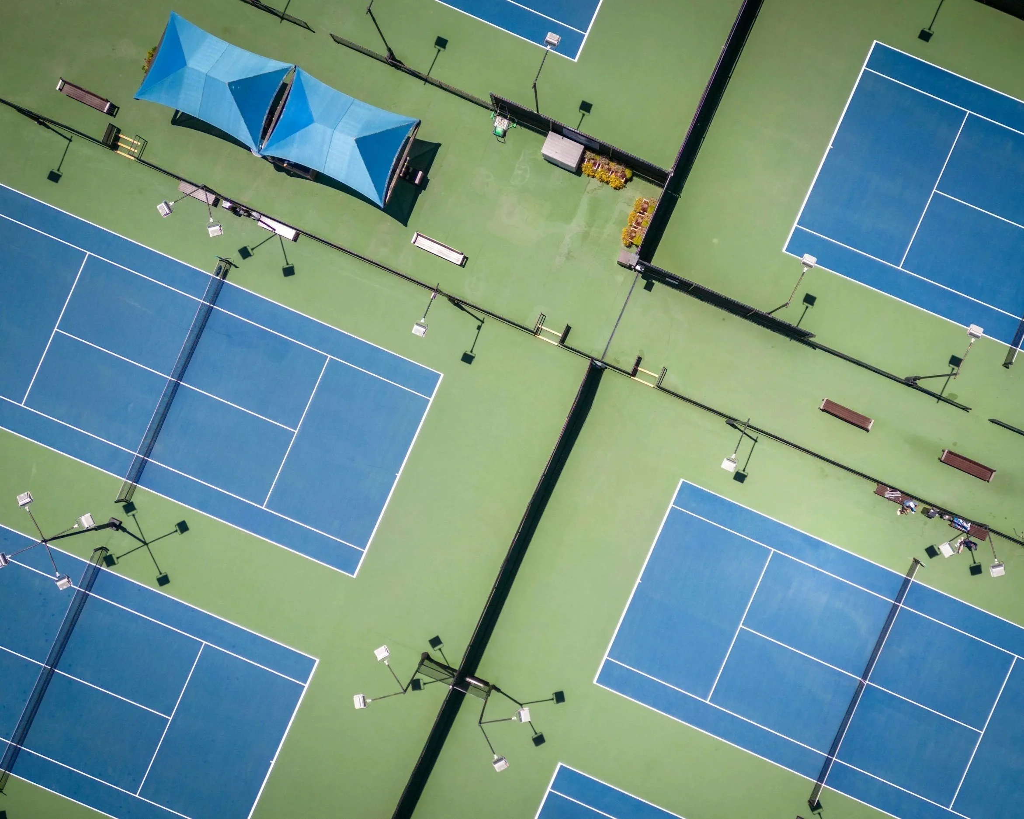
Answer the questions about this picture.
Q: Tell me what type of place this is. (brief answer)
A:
sports ground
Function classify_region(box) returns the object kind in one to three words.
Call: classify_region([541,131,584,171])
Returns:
shed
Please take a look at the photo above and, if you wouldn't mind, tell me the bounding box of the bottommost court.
[537,764,685,819]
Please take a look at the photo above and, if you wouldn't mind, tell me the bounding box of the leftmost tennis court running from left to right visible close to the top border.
[432,0,601,60]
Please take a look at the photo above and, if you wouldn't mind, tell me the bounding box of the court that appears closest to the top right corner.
[784,41,1024,352]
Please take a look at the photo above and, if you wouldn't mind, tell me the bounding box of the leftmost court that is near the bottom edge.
[0,524,315,819]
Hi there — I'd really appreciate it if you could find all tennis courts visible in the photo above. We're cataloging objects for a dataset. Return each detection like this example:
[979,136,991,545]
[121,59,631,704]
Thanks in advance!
[432,0,601,60]
[0,524,315,819]
[537,764,685,819]
[0,185,443,579]
[784,41,1024,352]
[594,481,1024,819]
